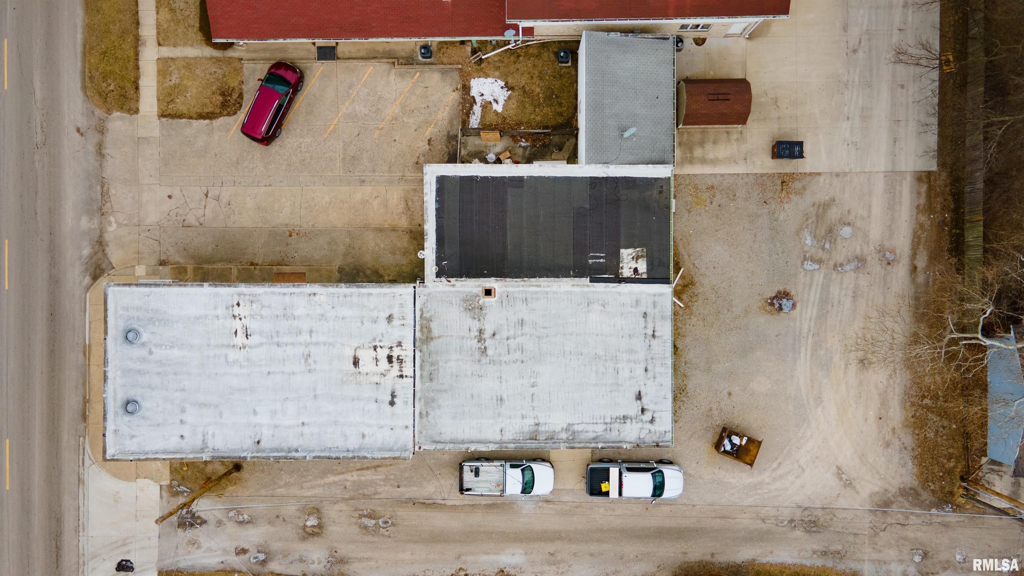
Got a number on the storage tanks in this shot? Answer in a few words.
0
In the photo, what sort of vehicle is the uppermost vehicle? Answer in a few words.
car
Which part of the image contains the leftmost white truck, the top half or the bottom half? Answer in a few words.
bottom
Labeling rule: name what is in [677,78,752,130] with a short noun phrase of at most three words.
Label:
shed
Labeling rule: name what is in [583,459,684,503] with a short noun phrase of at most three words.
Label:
truck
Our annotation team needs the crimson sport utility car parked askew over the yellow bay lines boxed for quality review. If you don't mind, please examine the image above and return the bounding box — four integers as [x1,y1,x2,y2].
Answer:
[240,59,305,148]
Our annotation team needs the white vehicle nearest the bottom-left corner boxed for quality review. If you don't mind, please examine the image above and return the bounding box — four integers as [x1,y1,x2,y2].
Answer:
[457,458,554,500]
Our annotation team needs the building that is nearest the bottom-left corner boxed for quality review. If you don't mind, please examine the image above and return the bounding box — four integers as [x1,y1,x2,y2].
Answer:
[102,279,421,461]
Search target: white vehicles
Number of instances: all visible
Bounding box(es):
[457,458,554,500]
[583,459,684,503]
